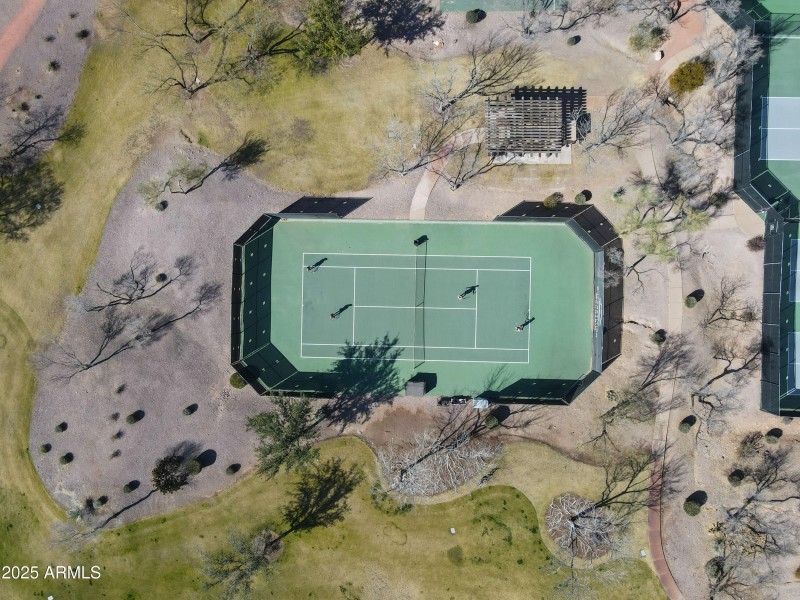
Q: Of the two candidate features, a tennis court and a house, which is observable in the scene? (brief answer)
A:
tennis court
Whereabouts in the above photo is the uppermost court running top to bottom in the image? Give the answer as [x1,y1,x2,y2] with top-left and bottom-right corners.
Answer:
[737,36,800,223]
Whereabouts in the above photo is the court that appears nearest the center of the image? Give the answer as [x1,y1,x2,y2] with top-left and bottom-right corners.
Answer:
[242,218,594,399]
